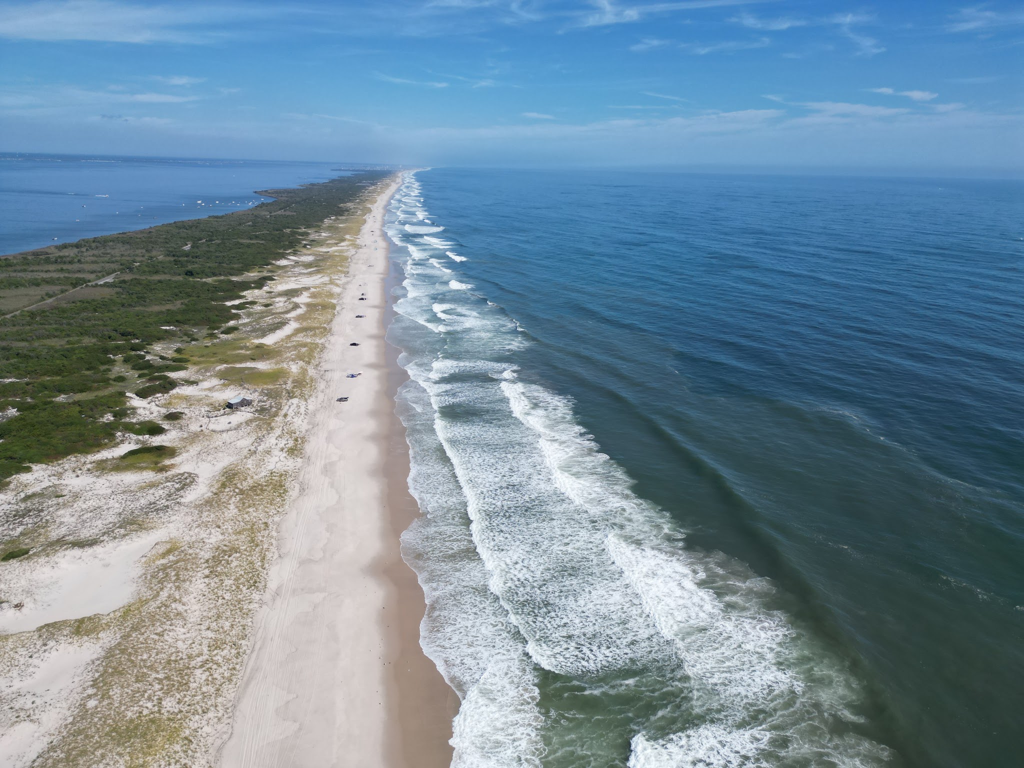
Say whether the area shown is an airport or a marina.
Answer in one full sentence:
The area seen from above is a marina.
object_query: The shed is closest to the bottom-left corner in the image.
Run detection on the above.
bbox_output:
[225,389,252,407]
